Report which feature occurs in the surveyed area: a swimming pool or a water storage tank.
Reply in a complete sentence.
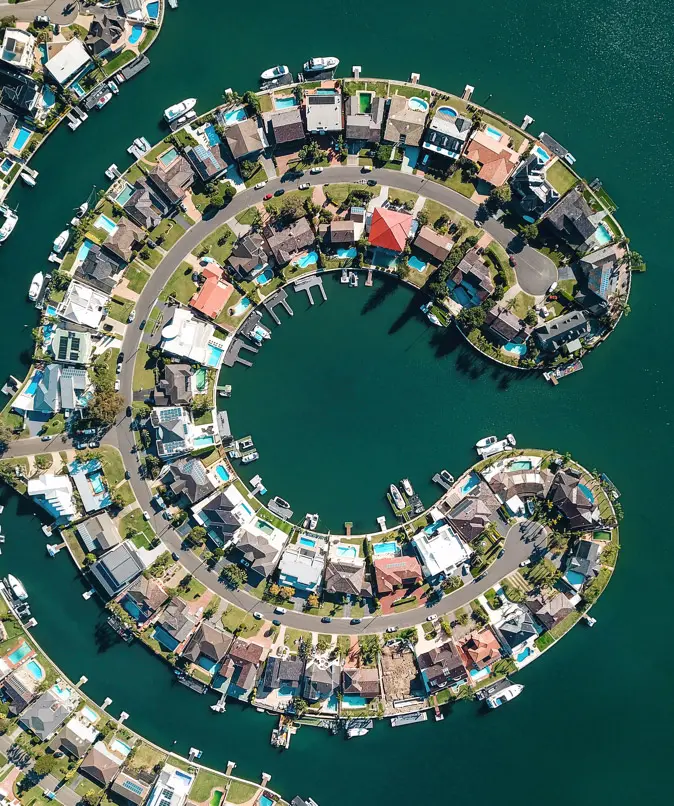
I can see a swimming pool in this picture.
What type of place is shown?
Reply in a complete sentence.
The area seen from above is a residential area.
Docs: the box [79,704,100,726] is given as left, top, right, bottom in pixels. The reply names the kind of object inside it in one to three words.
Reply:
swimming pool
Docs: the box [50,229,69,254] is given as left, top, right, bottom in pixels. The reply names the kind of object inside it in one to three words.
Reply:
boat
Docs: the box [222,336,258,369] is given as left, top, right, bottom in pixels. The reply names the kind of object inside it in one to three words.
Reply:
pier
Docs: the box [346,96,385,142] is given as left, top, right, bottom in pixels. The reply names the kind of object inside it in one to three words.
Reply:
house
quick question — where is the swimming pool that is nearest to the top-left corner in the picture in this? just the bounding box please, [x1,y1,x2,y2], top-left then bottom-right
[37,41,50,68]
